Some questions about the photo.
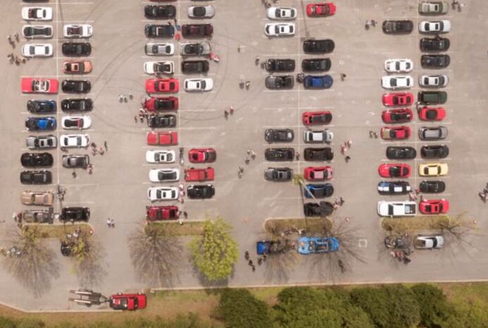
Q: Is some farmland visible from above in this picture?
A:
No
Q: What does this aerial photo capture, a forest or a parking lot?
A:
parking lot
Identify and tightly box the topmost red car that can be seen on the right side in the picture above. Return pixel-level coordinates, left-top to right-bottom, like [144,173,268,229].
[305,2,337,17]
